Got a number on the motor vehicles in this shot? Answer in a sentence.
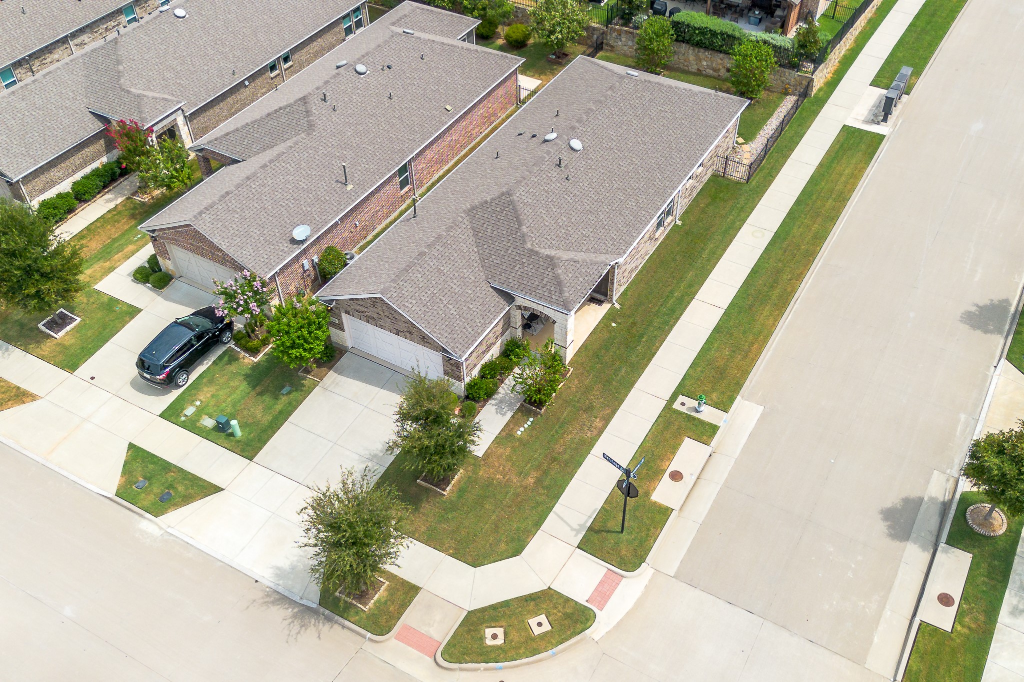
In total, there is 1 motor vehicle in the scene.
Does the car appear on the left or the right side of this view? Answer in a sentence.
The car is on the left side of the image.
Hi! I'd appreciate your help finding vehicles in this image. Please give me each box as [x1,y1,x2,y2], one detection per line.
[129,304,235,389]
